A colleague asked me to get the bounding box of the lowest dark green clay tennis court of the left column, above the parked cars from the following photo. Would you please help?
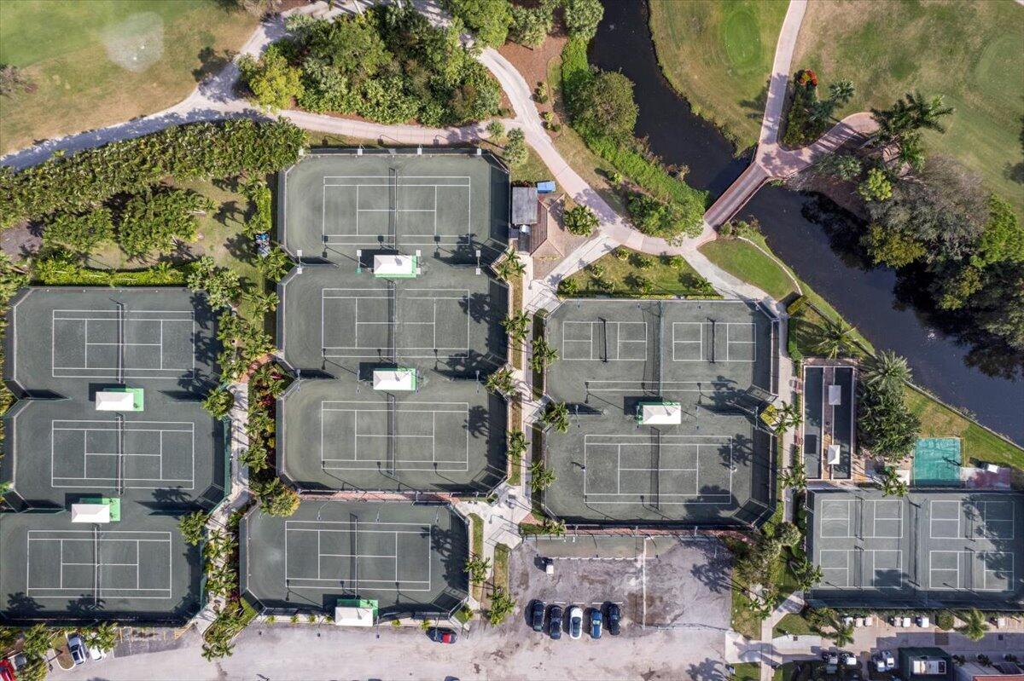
[2,509,207,619]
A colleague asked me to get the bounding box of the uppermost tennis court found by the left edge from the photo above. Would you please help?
[16,289,225,399]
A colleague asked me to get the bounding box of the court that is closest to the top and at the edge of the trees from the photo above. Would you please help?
[286,155,507,265]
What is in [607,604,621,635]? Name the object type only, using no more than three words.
car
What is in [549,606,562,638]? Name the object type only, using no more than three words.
vehicle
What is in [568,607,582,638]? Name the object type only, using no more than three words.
car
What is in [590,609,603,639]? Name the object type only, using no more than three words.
vehicle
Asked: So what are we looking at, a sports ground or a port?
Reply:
sports ground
